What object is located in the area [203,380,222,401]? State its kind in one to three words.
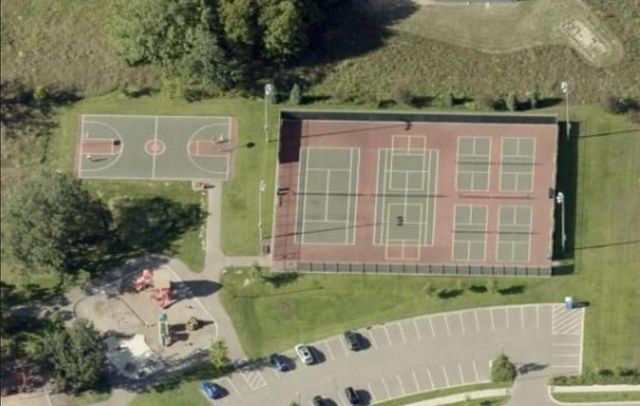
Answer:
car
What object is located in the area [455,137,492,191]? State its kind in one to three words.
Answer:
sports court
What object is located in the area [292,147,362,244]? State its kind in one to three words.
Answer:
tennis court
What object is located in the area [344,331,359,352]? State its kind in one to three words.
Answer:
car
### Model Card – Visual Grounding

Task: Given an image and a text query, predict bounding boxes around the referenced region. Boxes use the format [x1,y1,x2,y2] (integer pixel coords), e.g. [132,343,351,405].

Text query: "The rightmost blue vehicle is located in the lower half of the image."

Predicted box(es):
[269,353,289,372]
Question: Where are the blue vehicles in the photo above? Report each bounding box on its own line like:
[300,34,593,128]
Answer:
[203,380,222,401]
[269,353,289,372]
